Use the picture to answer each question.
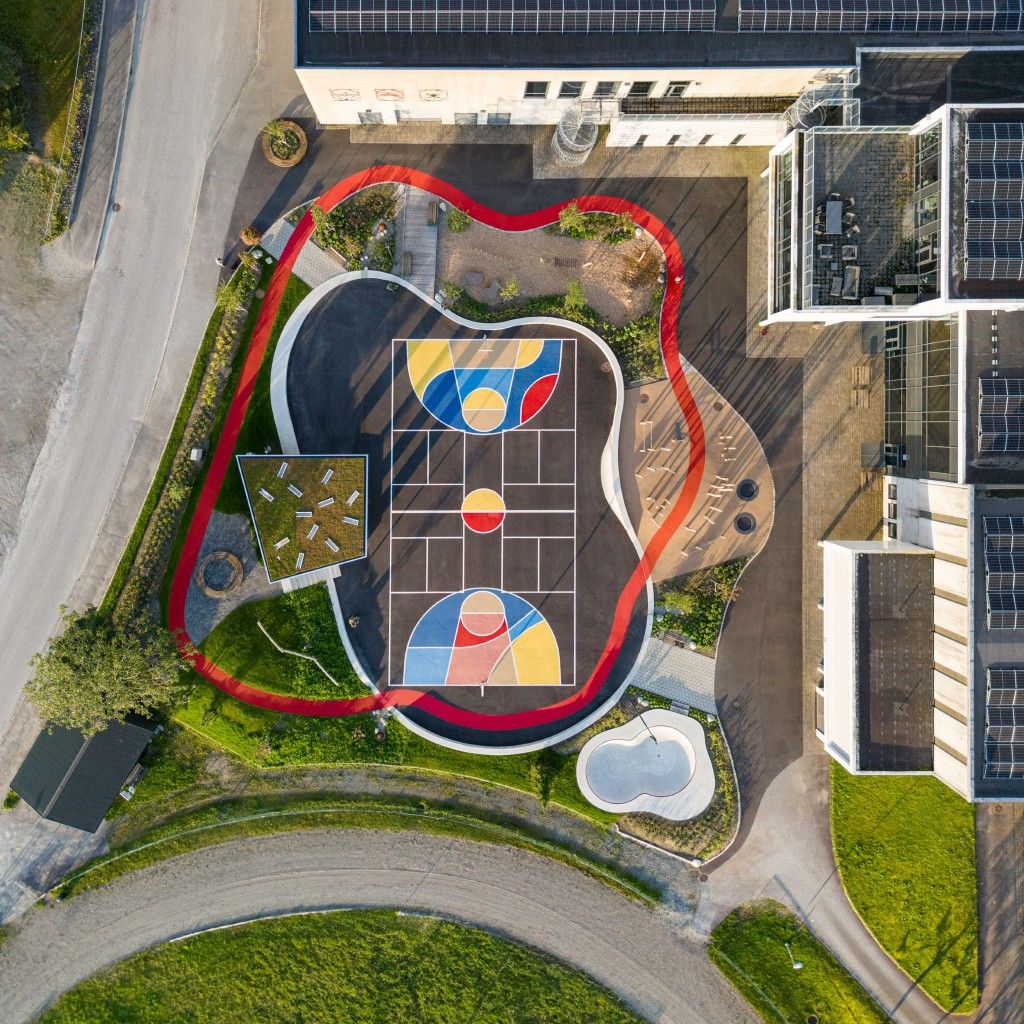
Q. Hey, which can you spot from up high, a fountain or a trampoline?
trampoline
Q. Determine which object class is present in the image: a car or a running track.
running track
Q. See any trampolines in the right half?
Yes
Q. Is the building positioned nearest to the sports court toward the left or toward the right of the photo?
left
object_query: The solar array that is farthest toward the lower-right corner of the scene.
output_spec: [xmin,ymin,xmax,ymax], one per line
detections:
[986,670,1024,780]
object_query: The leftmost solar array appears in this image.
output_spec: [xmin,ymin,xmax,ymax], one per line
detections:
[307,0,720,33]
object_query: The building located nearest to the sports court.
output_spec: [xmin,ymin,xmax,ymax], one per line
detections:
[237,455,368,595]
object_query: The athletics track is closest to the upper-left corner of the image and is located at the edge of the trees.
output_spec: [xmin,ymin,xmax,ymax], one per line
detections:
[167,163,705,731]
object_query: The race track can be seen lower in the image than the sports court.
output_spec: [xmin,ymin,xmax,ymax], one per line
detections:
[0,829,763,1024]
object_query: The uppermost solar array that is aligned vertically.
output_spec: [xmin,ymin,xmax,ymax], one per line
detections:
[966,123,1024,279]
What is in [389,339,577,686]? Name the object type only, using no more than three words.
sports court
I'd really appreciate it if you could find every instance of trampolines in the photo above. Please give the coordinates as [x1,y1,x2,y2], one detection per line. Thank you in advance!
[737,479,759,501]
[734,512,756,534]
